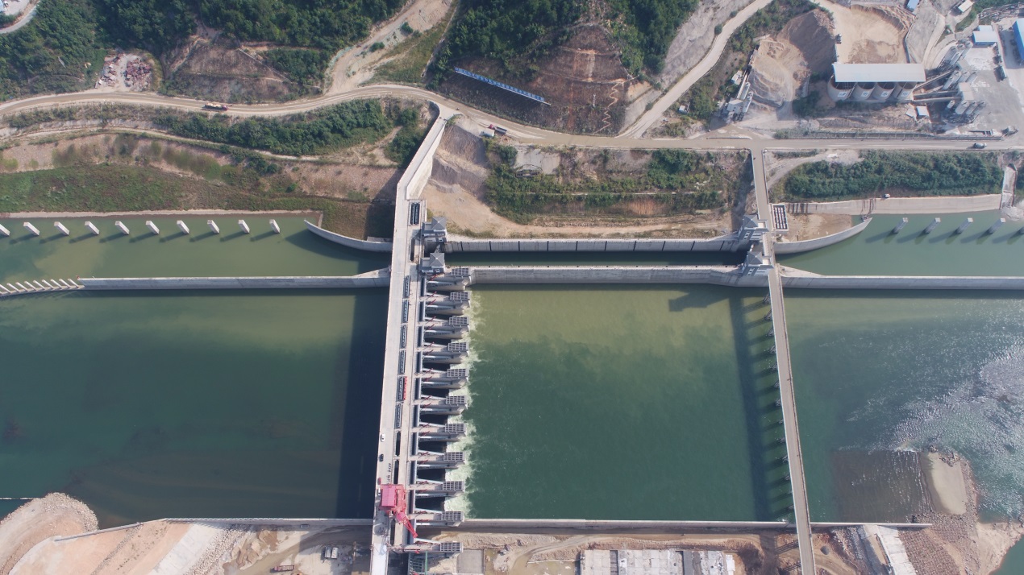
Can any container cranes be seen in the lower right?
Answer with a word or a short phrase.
No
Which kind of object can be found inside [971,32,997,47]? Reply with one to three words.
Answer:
shed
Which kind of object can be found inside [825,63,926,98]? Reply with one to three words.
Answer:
house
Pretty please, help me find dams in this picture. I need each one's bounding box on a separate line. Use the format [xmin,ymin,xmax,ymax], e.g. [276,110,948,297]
[368,197,470,575]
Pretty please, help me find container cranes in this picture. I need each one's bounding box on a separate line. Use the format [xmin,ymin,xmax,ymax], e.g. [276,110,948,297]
[380,483,418,539]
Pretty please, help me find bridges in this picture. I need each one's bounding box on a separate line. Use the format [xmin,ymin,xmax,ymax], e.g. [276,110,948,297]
[751,148,819,575]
